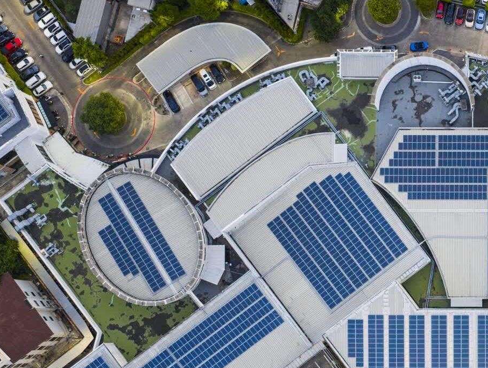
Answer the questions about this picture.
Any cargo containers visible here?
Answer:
No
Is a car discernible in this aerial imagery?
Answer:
Yes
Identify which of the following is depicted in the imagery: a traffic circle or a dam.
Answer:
traffic circle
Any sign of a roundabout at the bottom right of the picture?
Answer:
No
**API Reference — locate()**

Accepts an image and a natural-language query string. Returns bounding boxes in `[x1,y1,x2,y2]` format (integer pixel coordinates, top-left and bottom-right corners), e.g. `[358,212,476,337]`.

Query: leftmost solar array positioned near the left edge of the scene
[0,98,14,123]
